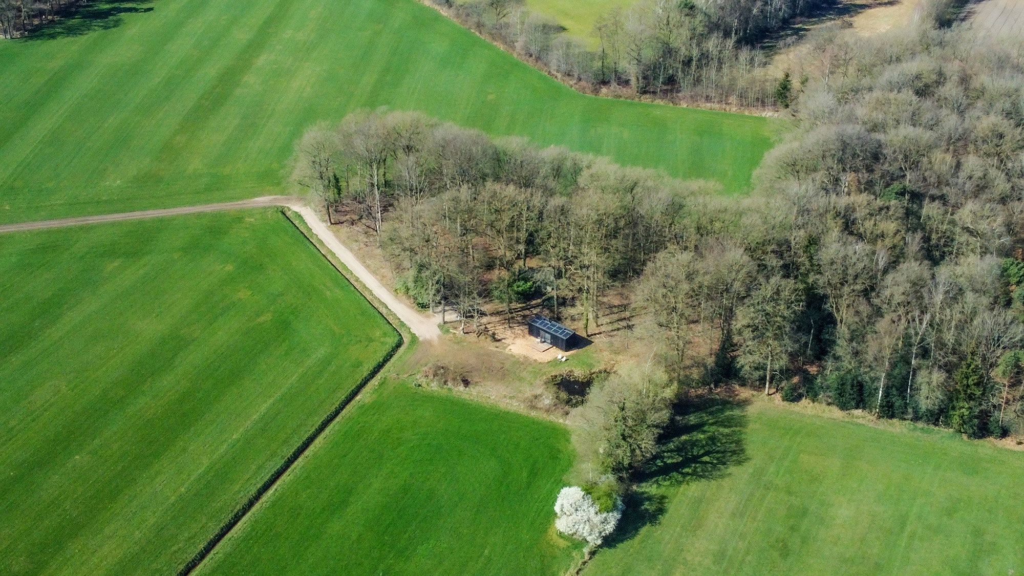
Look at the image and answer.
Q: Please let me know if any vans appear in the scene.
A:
No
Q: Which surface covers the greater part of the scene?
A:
grass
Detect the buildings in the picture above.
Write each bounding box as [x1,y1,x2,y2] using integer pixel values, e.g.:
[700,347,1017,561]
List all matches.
[528,313,576,351]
